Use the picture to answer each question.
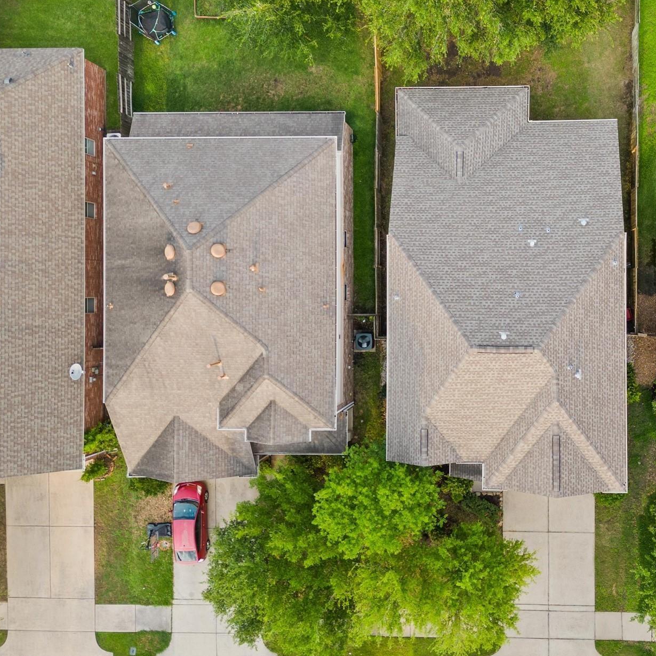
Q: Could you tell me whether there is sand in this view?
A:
No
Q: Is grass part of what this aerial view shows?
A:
Yes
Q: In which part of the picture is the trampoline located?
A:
top left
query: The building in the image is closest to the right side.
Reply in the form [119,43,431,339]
[385,84,629,502]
